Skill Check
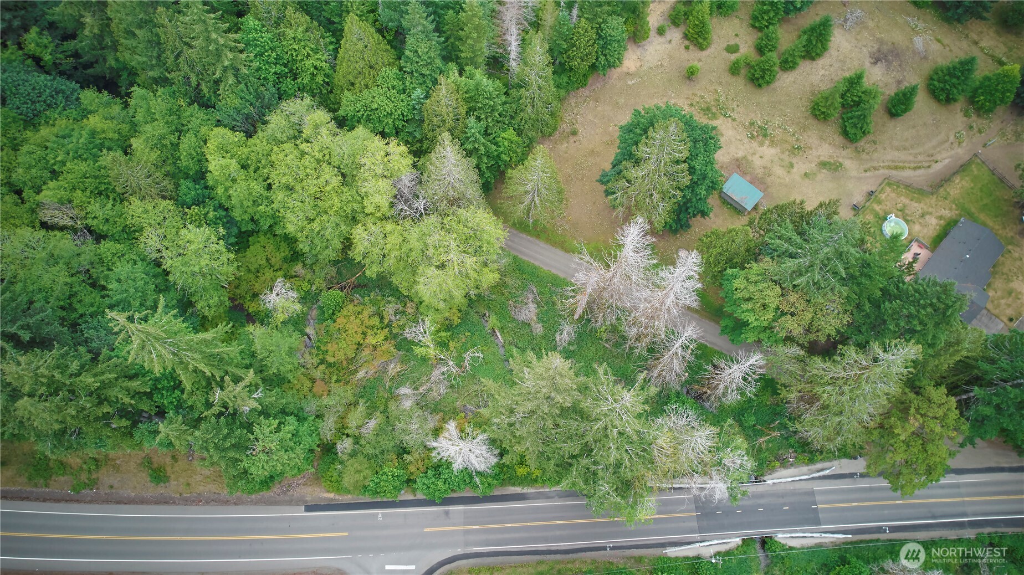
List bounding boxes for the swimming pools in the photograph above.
[879,215,909,241]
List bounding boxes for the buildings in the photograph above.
[721,173,763,214]
[915,217,1006,324]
